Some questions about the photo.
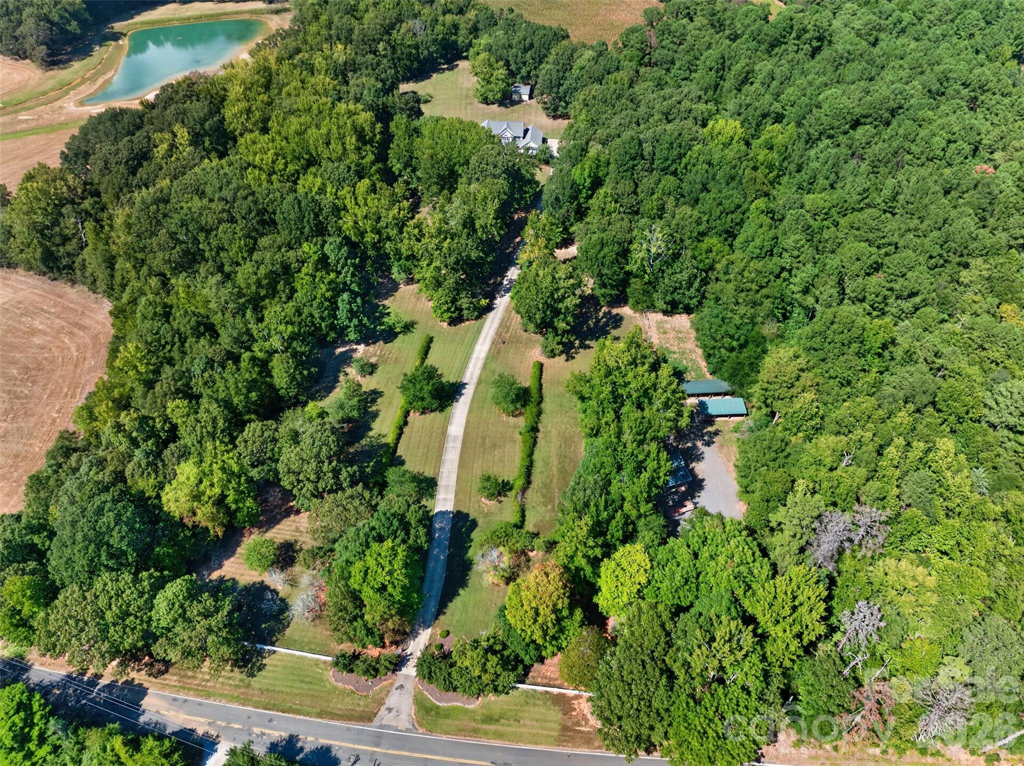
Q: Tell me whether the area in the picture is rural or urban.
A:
rural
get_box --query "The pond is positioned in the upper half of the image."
[79,17,273,105]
